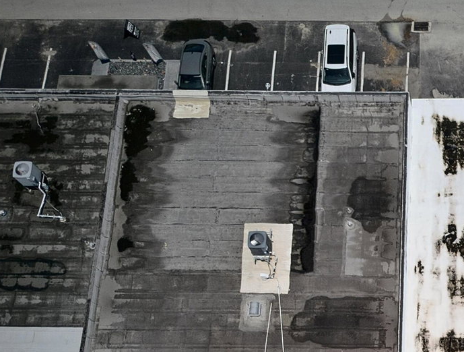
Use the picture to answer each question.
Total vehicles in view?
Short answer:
two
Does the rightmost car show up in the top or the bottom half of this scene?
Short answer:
top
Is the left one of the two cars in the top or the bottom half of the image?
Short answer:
top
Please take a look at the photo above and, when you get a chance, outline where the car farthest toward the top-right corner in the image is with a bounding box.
[318,27,359,93]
